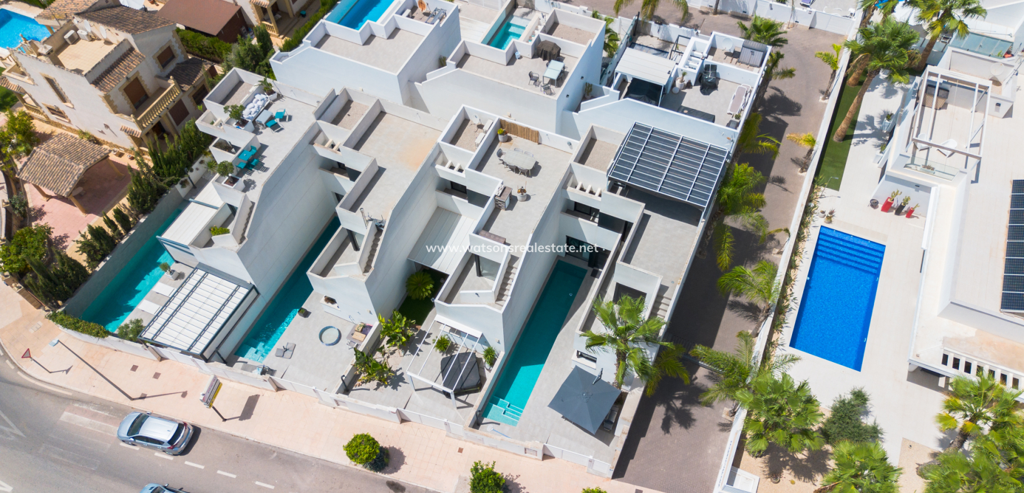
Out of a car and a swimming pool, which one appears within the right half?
swimming pool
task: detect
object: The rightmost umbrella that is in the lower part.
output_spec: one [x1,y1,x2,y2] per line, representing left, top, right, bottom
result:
[548,366,621,435]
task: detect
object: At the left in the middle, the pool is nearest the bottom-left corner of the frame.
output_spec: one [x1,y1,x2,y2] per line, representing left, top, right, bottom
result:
[79,238,178,330]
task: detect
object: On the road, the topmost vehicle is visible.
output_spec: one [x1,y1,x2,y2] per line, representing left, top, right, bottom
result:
[115,410,189,456]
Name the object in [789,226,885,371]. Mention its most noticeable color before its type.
blue swimming pool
